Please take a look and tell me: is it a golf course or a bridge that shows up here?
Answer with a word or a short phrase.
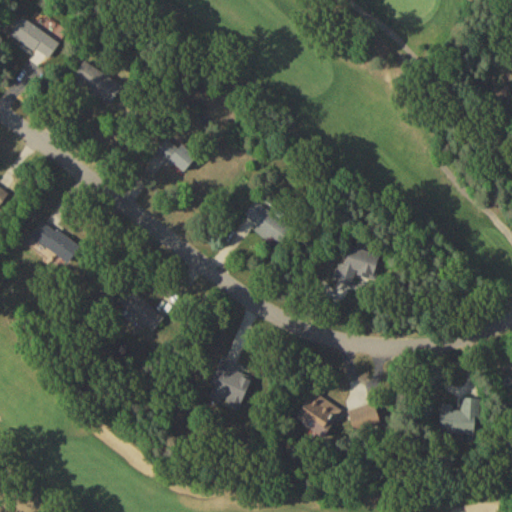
golf course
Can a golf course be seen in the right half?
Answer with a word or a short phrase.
Yes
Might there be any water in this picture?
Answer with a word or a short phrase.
No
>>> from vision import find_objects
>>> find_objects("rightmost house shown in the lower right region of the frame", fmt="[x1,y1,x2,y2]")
[440,397,480,432]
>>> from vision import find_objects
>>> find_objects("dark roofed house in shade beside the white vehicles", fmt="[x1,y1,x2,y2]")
[118,297,161,337]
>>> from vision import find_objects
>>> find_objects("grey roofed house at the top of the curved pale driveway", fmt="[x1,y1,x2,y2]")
[247,203,290,240]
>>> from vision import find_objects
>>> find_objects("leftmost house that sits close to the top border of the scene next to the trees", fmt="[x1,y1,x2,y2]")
[14,20,58,58]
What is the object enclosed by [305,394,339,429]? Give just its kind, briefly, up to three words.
house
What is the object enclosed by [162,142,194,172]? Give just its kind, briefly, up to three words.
house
